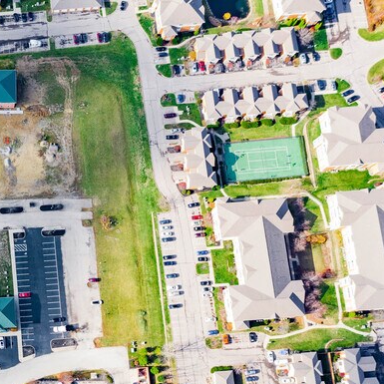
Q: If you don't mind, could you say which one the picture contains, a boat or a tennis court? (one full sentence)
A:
Visible in the photo is a tennis court.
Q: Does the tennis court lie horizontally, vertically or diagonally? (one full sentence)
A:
What the image shows is the tennis court lying horizontally.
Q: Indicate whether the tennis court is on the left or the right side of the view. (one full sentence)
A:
The tennis court is on the right side of the image.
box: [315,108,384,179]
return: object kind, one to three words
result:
building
